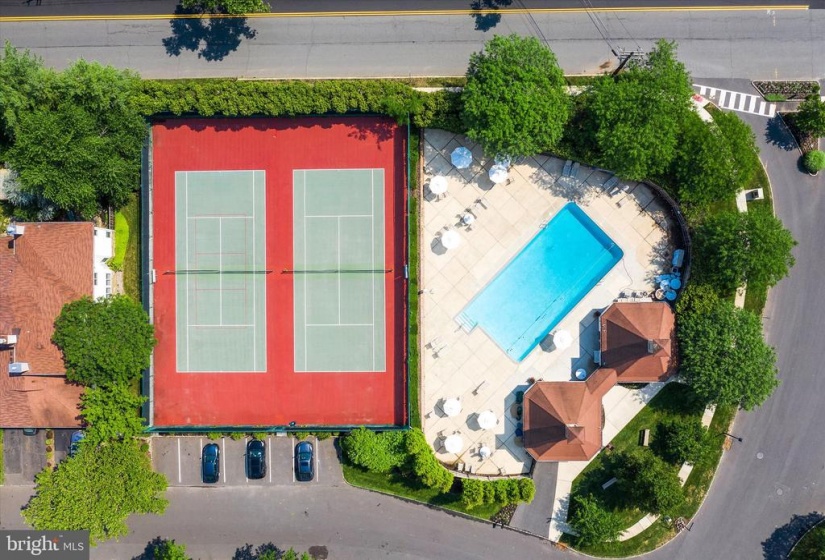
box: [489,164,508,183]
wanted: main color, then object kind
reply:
white umbrella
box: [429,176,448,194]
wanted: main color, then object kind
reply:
white umbrella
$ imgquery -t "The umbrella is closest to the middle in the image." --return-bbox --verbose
[442,230,459,248]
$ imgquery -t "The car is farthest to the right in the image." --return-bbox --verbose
[293,441,313,481]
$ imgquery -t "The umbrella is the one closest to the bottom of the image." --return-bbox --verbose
[445,434,463,452]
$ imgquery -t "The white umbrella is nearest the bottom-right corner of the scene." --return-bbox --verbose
[553,330,572,349]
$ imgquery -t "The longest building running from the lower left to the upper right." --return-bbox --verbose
[523,301,677,462]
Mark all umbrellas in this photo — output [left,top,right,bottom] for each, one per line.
[477,409,497,429]
[495,152,512,168]
[442,230,459,248]
[489,164,508,183]
[429,176,448,194]
[445,434,463,452]
[451,147,471,168]
[443,398,462,417]
[553,330,572,349]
